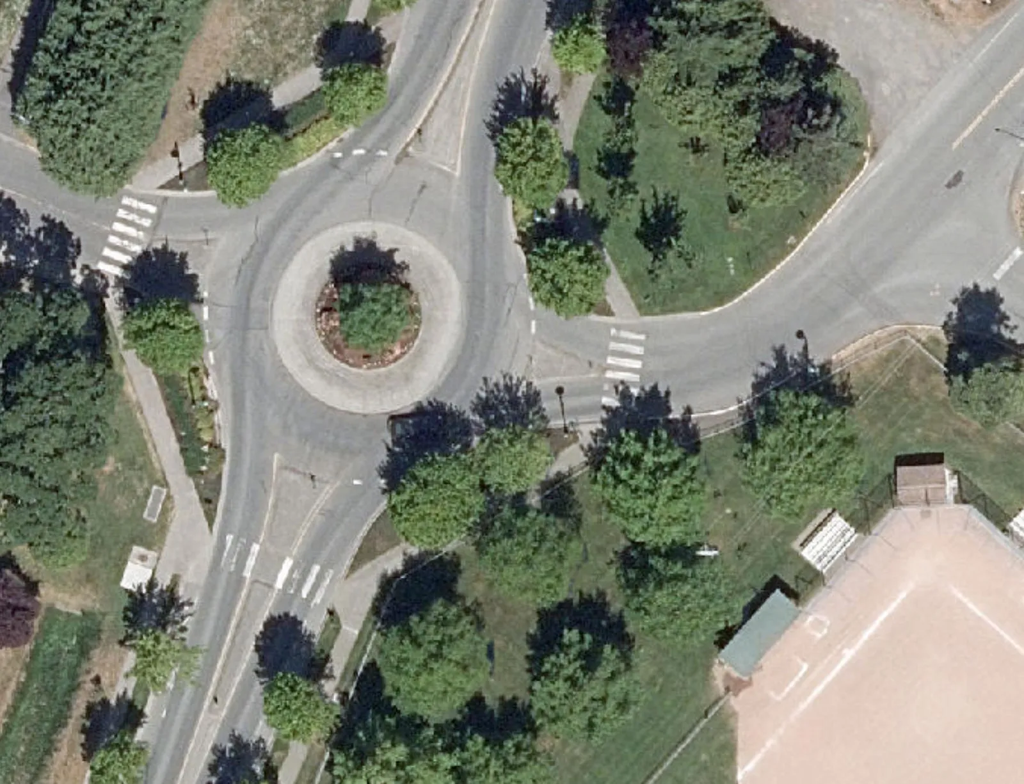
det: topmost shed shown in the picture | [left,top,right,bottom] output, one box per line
[896,462,947,507]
